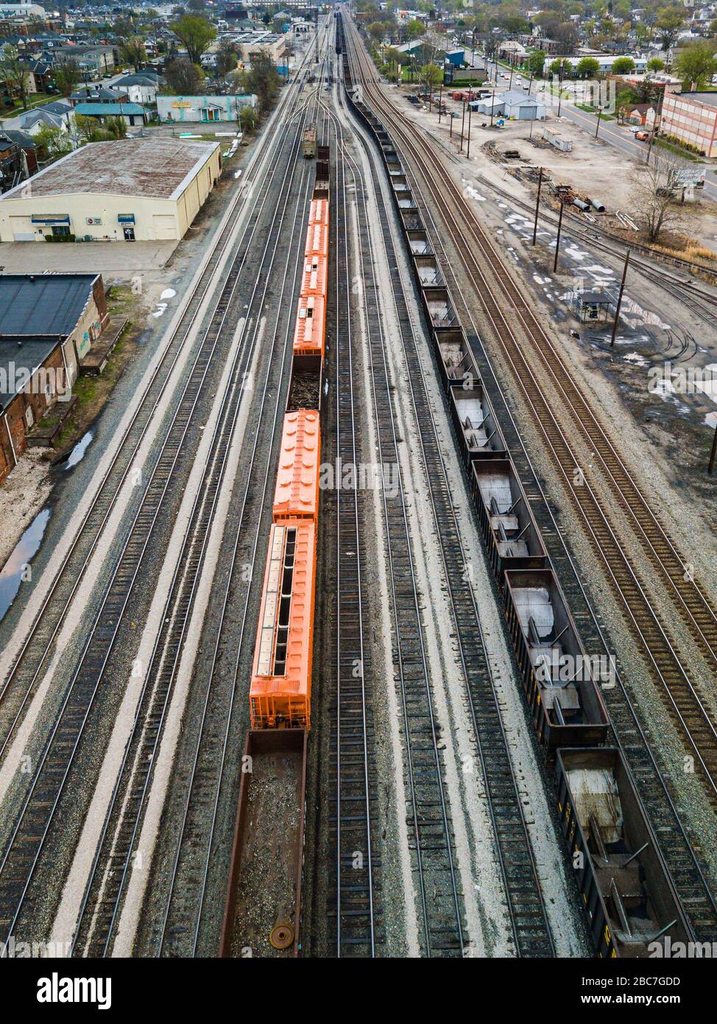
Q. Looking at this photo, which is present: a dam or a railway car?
railway car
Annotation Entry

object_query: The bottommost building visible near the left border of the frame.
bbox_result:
[0,274,117,487]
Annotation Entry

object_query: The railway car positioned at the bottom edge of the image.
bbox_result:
[551,748,717,1024]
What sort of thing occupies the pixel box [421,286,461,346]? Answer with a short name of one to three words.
rail car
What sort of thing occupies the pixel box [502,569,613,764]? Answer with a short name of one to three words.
rail car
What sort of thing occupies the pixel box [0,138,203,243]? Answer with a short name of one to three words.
building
